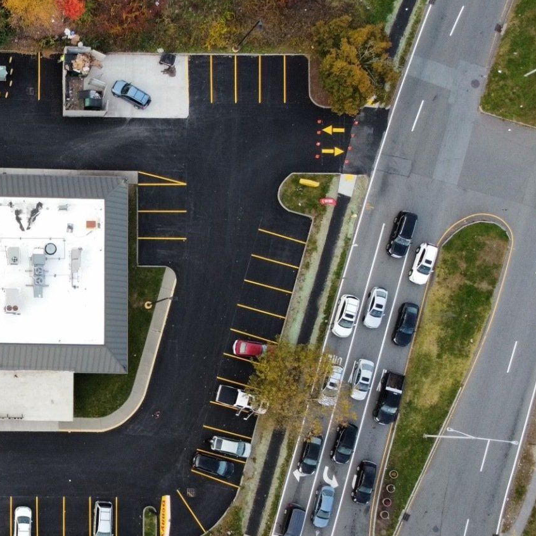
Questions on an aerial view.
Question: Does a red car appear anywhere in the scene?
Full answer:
Yes, the picture does show a red car.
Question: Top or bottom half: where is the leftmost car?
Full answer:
The leftmost car sits in the bottom half of the picture.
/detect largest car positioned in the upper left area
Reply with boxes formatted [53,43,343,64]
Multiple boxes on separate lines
[109,81,152,113]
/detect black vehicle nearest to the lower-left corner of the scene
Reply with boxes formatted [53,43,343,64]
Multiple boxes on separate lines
[190,452,235,478]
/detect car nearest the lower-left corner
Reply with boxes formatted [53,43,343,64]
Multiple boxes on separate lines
[13,504,33,536]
